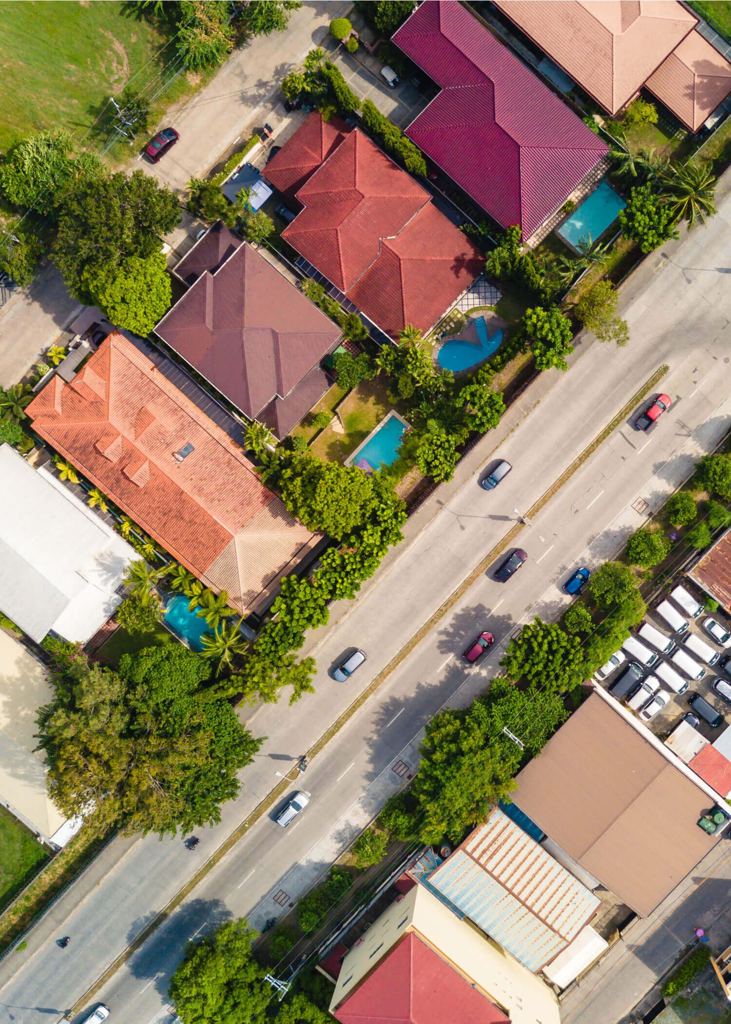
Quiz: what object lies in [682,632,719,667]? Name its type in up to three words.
van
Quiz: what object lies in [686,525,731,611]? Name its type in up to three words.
shed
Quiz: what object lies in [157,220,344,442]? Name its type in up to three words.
house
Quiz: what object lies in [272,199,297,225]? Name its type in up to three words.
car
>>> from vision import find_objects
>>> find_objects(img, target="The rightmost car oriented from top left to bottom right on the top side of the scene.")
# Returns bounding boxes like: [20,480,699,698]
[407,74,437,104]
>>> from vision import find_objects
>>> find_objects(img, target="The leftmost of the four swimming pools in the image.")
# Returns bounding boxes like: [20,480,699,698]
[159,592,227,656]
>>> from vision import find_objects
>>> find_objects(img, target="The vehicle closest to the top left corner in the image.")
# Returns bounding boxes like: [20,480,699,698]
[143,130,181,166]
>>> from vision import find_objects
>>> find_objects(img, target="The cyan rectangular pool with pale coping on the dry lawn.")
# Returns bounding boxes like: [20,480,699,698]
[343,410,412,481]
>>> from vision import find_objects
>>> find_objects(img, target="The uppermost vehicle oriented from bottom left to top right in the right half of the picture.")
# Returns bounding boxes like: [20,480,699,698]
[635,393,672,432]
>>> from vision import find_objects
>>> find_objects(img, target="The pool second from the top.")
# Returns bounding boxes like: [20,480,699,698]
[436,315,505,372]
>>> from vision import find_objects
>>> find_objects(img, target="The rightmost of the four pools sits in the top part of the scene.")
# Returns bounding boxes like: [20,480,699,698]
[554,178,630,254]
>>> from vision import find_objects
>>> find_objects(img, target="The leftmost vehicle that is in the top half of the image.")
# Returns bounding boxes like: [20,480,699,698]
[88,329,108,347]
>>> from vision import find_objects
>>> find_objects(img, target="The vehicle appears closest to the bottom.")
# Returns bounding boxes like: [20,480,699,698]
[80,1001,111,1024]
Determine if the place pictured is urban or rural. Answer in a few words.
urban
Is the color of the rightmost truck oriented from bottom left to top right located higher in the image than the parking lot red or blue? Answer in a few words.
red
